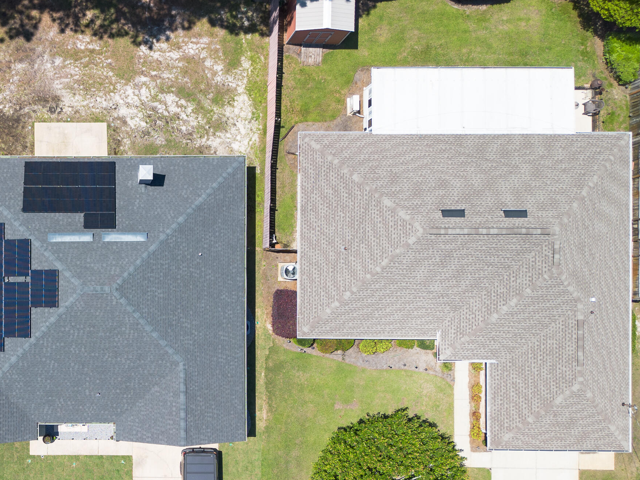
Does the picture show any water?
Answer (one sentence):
No, the picture contains no water.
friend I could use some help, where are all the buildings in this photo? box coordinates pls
[281,0,356,65]
[0,154,249,447]
[294,65,635,453]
